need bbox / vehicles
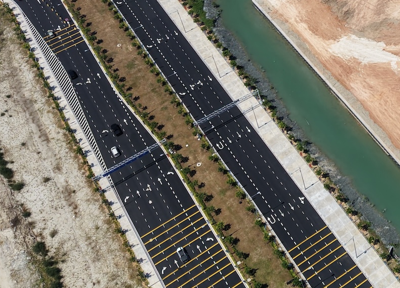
[112,124,122,135]
[69,68,77,79]
[176,246,189,263]
[46,28,55,37]
[110,146,120,156]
